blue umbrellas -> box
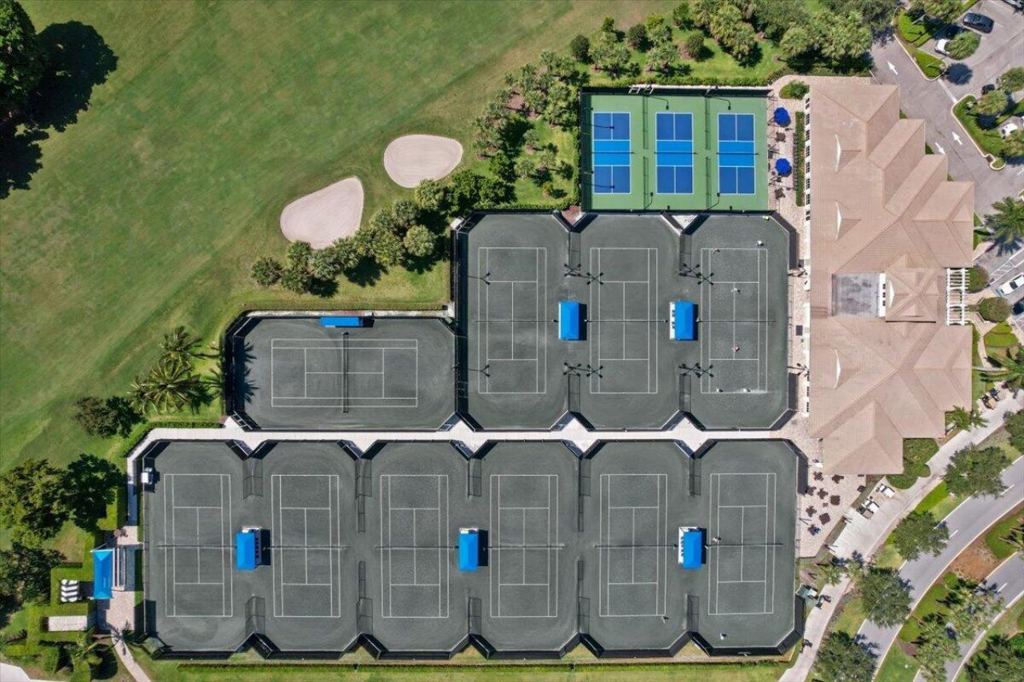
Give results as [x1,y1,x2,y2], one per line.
[773,107,790,125]
[774,158,791,175]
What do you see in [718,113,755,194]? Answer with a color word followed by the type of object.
blue sports court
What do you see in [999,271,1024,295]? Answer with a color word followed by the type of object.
white car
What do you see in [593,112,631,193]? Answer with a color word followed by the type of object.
blue sports court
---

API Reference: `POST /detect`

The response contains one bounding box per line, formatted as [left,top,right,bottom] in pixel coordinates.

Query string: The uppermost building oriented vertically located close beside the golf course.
[803,84,974,474]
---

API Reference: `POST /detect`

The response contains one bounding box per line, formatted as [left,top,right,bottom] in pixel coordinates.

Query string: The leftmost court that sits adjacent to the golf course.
[144,443,253,651]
